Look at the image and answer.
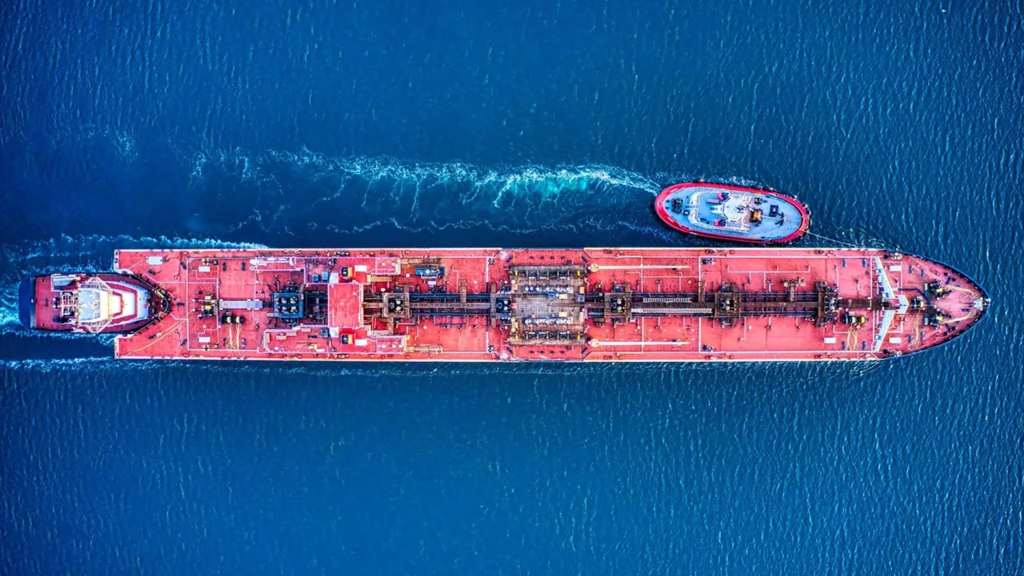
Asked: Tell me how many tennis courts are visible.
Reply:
0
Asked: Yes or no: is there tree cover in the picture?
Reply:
No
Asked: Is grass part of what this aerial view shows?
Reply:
No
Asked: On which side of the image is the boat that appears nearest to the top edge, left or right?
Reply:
right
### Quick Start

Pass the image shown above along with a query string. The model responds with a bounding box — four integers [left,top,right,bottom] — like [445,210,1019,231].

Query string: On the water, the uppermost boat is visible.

[652,179,813,248]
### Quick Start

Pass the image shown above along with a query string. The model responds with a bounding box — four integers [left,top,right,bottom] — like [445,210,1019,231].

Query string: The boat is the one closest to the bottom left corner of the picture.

[17,273,166,335]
